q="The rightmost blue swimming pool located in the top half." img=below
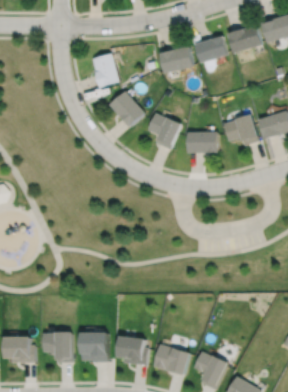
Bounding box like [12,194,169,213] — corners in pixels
[186,75,202,91]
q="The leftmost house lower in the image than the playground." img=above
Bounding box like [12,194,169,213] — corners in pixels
[0,337,36,364]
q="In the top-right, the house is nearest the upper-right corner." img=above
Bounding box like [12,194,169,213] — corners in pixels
[260,14,288,43]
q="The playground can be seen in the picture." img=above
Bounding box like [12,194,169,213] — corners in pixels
[0,206,44,272]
